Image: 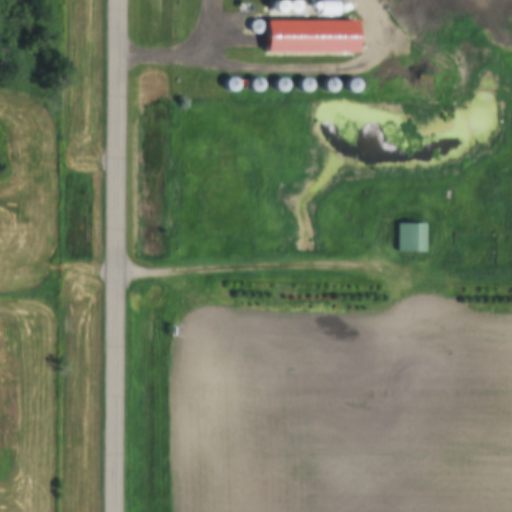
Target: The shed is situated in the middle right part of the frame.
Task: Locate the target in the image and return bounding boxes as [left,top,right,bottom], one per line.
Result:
[399,222,429,252]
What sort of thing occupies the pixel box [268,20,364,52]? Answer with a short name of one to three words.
barn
